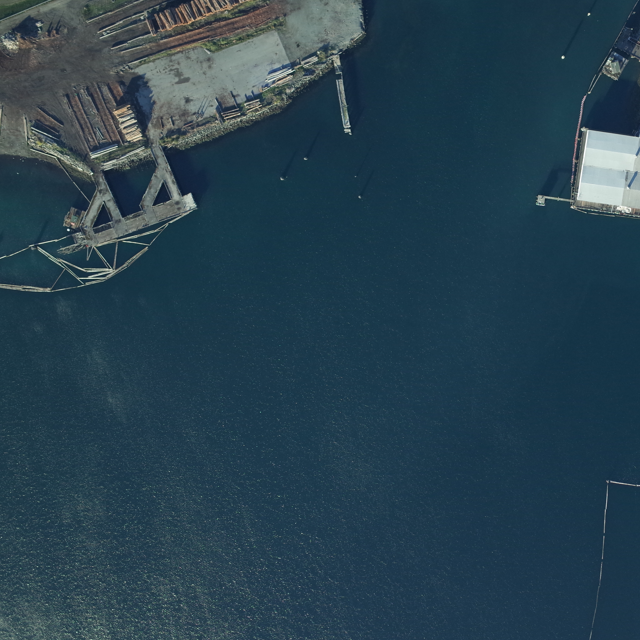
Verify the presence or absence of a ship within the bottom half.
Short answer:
No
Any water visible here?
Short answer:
Yes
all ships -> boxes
[63,207,85,229]
[601,52,629,80]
